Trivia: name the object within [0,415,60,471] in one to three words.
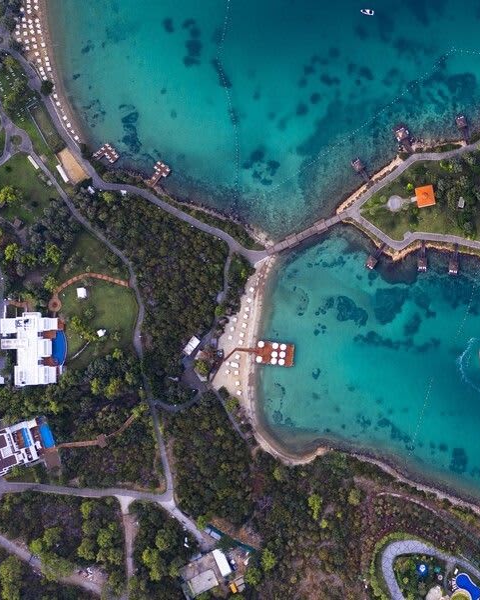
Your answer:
house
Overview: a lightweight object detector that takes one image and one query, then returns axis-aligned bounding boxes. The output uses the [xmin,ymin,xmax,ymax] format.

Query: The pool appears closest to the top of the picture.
[52,329,66,364]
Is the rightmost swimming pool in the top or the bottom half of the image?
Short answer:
bottom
